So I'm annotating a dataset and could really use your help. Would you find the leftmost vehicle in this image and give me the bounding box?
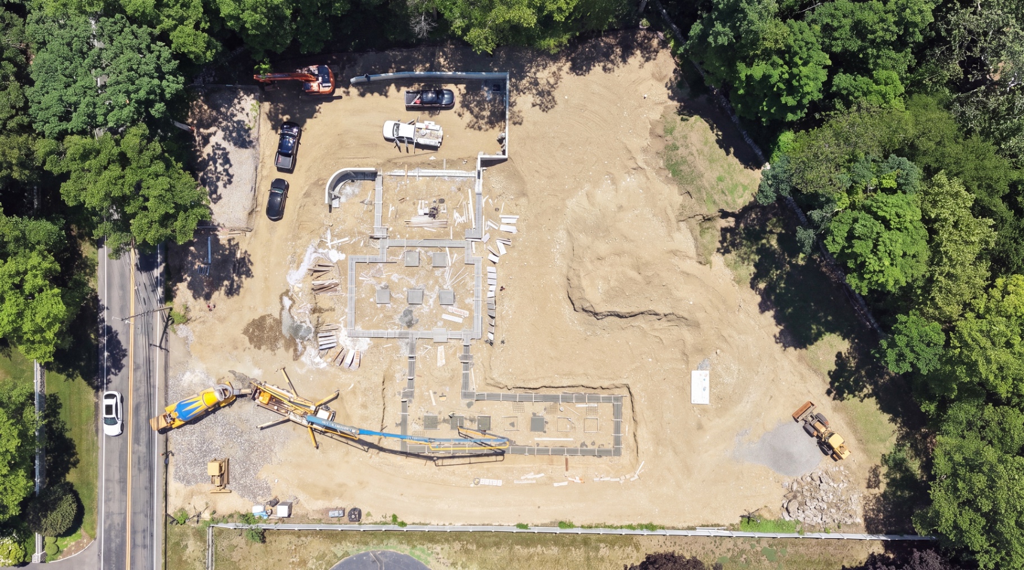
[101,391,125,436]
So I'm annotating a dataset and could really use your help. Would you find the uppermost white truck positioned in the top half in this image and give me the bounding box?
[385,120,444,153]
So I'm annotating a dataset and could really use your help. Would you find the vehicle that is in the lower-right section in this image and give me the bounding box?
[791,401,850,461]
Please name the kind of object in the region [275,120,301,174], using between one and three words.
truck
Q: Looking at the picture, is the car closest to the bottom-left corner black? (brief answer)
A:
No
